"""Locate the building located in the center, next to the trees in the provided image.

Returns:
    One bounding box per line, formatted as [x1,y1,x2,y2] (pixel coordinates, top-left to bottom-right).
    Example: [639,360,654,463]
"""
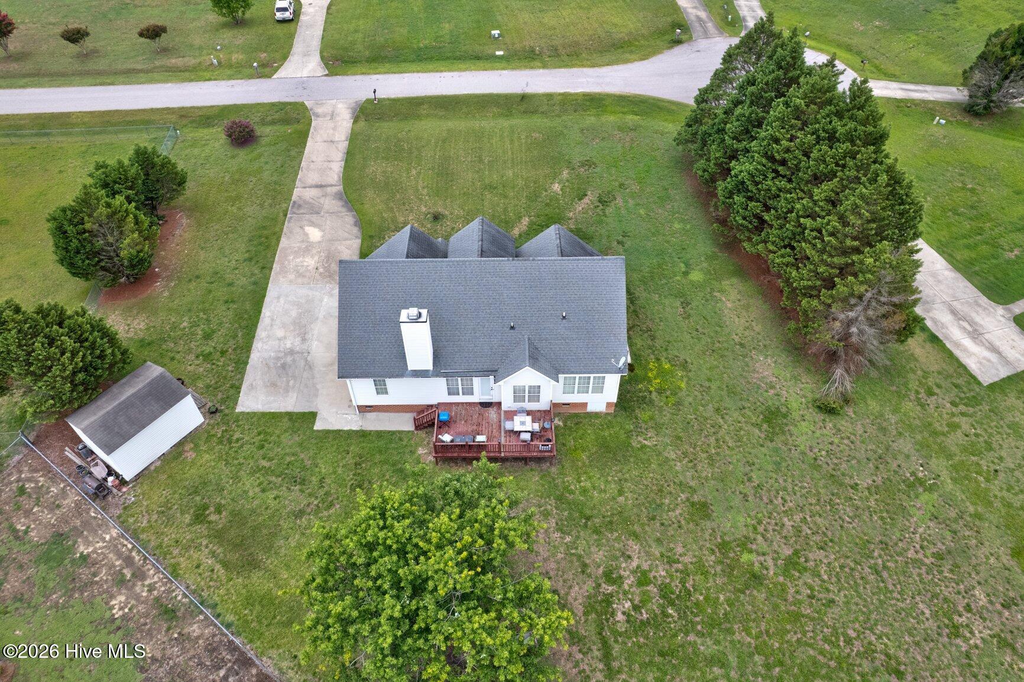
[337,216,629,419]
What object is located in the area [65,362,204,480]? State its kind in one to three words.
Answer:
shed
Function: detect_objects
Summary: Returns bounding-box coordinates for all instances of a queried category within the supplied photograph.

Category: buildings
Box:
[65,362,204,480]
[337,216,629,419]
